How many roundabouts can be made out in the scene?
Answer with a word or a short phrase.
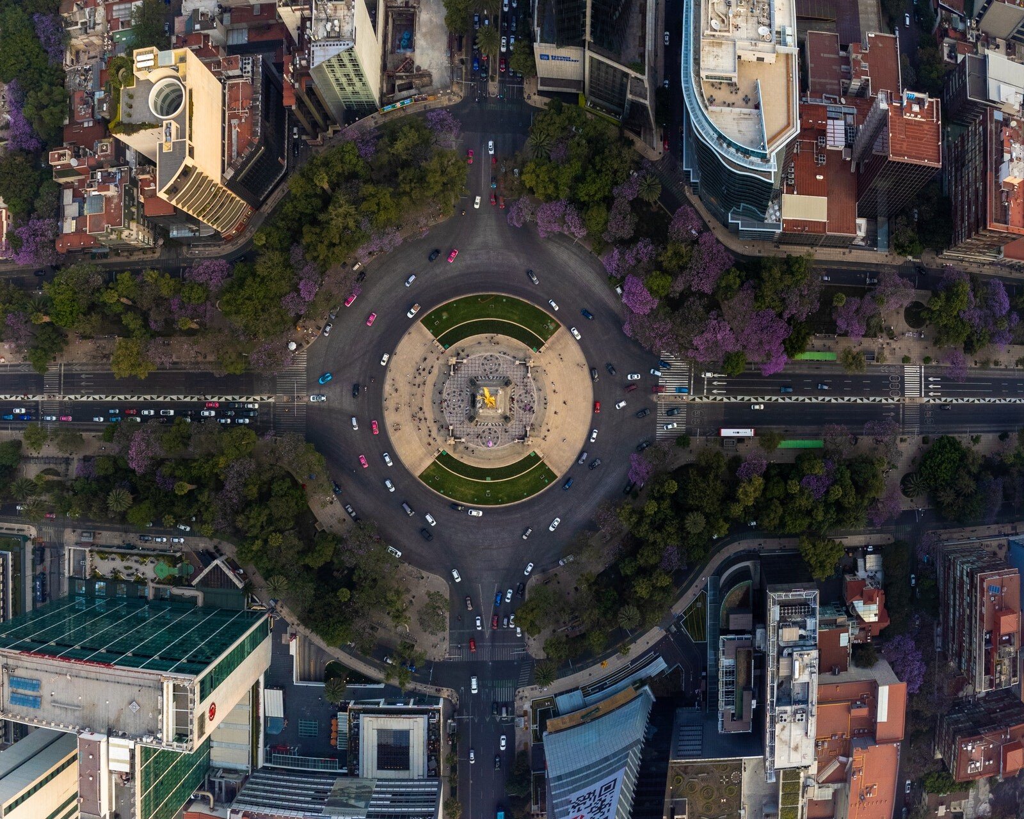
1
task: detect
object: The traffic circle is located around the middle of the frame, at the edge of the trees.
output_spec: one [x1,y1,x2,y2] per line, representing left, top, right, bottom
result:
[299,210,677,589]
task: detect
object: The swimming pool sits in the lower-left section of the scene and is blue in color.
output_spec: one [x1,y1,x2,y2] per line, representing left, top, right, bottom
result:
[269,717,284,736]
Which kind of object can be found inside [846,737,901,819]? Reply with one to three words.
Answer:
building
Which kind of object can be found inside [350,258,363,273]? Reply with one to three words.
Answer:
vehicle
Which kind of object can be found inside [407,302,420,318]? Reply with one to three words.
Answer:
vehicle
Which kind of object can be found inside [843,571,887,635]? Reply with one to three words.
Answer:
house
